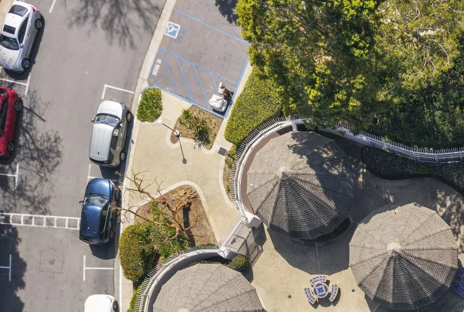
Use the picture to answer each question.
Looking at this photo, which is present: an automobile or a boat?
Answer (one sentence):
I can see an automobile in this picture.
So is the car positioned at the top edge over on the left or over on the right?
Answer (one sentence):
The car positioned at the top edge is on the left side of the image.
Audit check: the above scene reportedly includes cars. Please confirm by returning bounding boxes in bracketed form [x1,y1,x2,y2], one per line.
[82,179,123,245]
[0,88,27,154]
[87,295,118,312]
[90,100,131,168]
[0,0,39,70]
